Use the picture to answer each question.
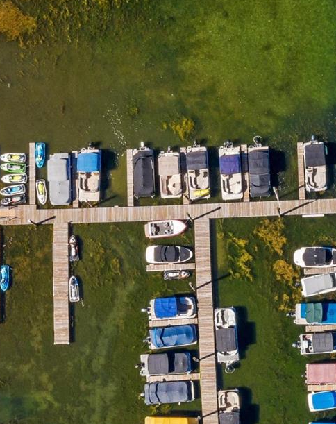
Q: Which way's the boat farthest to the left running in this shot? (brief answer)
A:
from top to bottom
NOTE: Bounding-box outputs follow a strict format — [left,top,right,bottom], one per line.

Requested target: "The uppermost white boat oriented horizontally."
[145,220,193,239]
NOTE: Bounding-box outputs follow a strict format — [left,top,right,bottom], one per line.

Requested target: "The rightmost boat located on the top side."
[302,134,328,194]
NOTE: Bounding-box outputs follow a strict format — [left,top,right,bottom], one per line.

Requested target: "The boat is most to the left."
[47,146,74,209]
